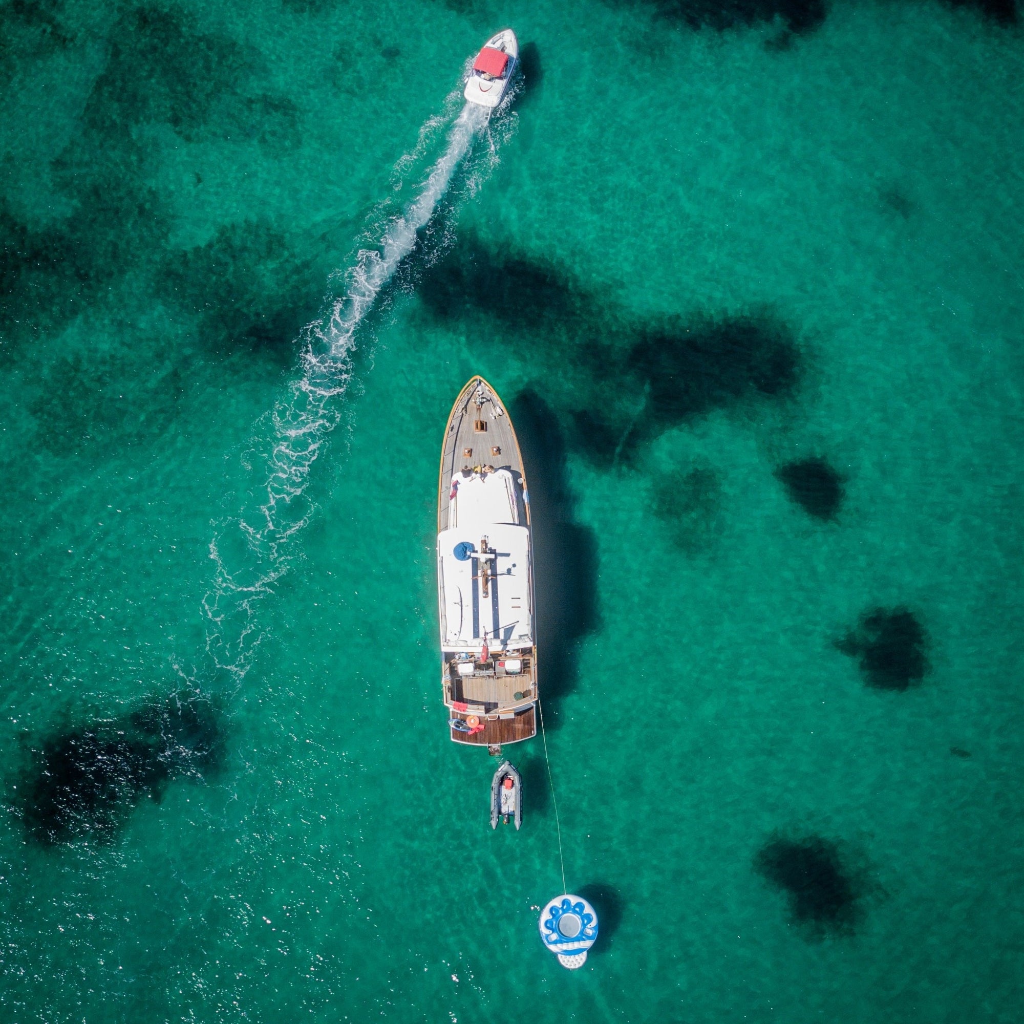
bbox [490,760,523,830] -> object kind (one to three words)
boat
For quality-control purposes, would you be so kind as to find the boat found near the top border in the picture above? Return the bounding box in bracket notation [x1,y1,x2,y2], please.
[464,27,518,126]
